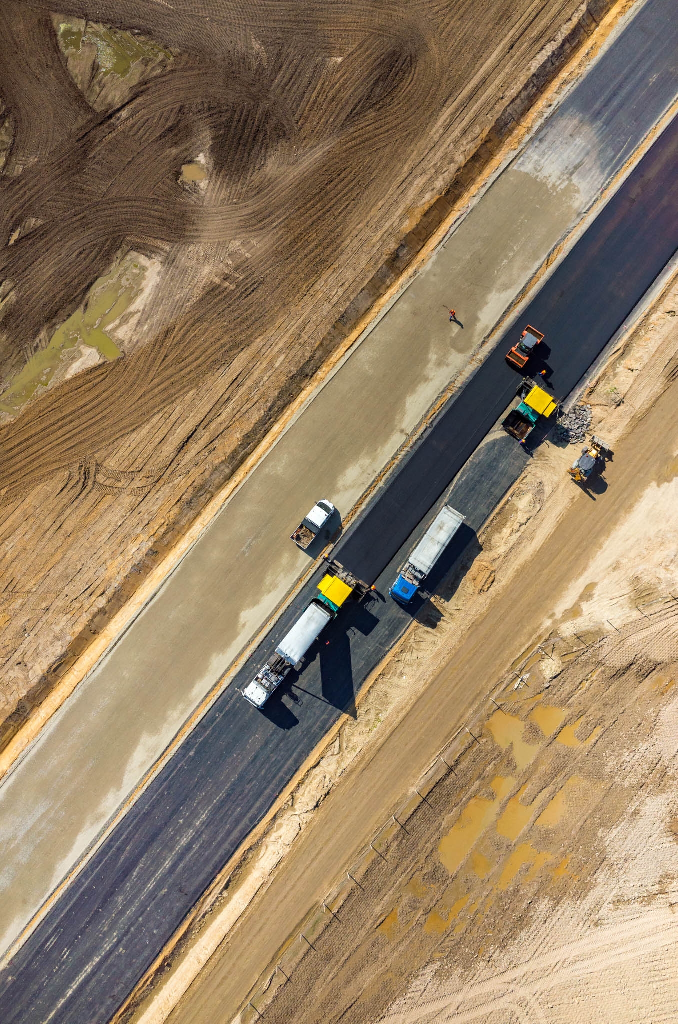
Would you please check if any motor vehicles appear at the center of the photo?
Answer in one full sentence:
Yes, a motor vehicle can be seen at the center of the photo.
